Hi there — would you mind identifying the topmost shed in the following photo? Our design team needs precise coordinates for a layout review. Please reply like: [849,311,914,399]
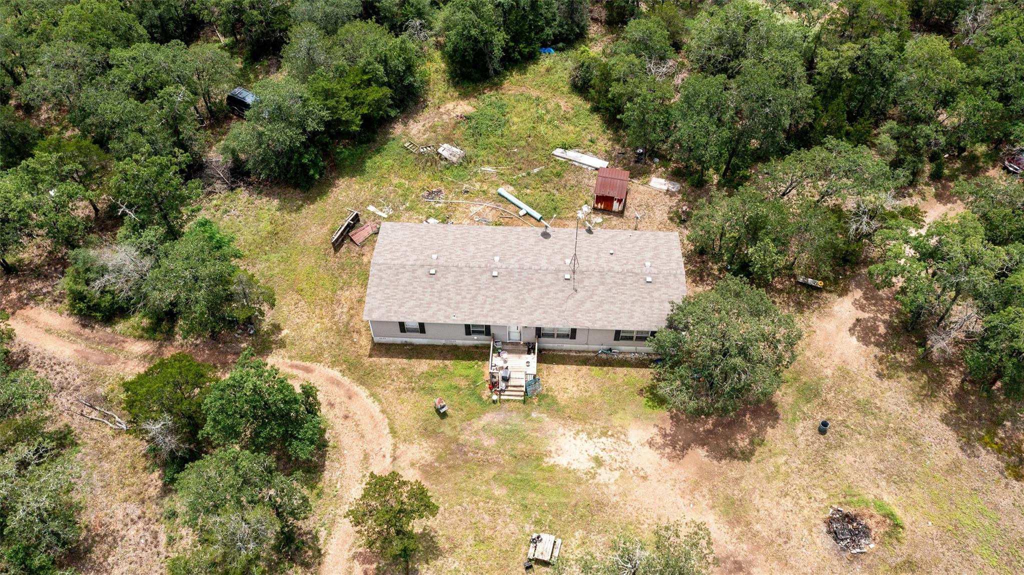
[593,166,633,214]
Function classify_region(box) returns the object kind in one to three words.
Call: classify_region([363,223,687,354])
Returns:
house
